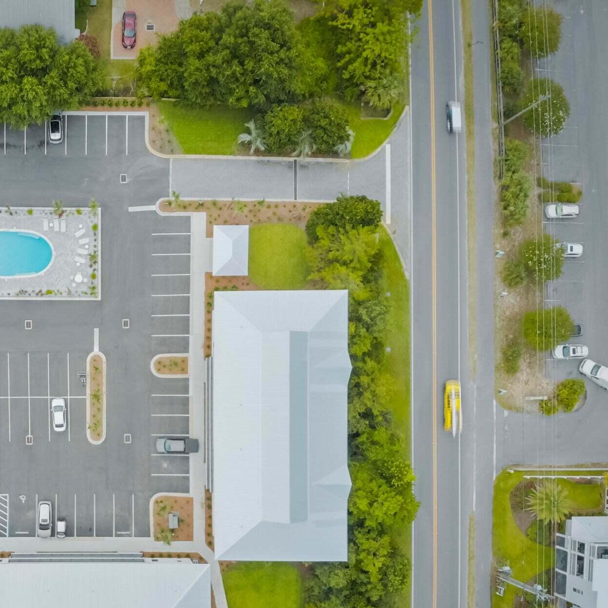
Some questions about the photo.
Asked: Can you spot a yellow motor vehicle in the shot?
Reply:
Yes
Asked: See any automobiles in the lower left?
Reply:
Yes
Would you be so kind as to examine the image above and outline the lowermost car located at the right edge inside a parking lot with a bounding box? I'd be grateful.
[576,361,608,391]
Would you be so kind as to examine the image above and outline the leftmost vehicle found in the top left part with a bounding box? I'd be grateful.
[47,112,63,145]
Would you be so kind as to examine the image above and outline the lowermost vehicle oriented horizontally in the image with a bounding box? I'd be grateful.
[156,437,198,454]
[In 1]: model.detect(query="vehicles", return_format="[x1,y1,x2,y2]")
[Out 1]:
[543,201,582,220]
[47,112,63,145]
[37,500,53,539]
[57,516,66,537]
[442,380,467,434]
[156,437,198,454]
[443,98,465,136]
[566,323,587,338]
[552,343,590,359]
[121,10,137,49]
[550,241,587,257]
[576,361,608,391]
[51,397,67,432]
